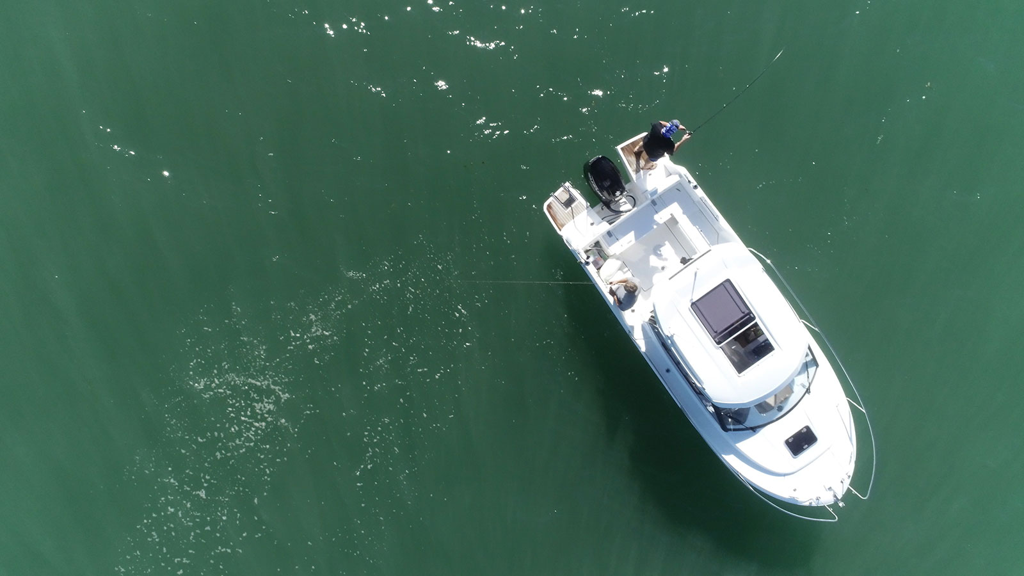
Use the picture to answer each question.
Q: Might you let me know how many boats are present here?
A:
1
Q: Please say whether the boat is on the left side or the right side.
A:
right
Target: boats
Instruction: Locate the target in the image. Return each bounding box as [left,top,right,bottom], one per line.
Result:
[546,134,881,519]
